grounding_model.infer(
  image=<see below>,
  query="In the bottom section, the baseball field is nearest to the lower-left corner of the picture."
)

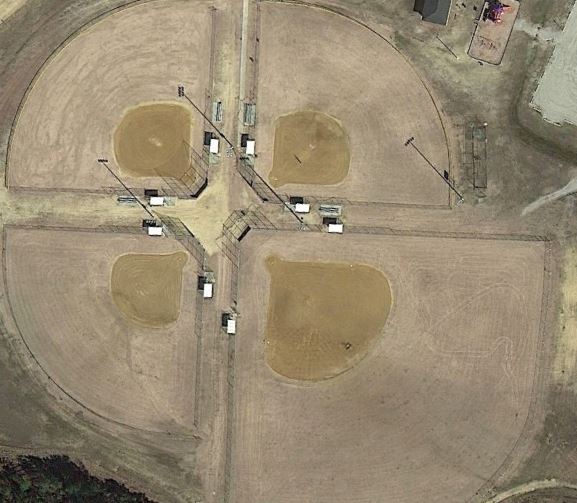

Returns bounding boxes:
[5,230,205,436]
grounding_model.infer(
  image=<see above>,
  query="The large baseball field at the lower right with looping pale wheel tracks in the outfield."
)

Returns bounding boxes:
[231,228,548,503]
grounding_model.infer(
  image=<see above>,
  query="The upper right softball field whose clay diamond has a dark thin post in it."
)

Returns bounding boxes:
[251,2,451,208]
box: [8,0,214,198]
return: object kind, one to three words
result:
baseball field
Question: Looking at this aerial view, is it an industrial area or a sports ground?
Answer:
sports ground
